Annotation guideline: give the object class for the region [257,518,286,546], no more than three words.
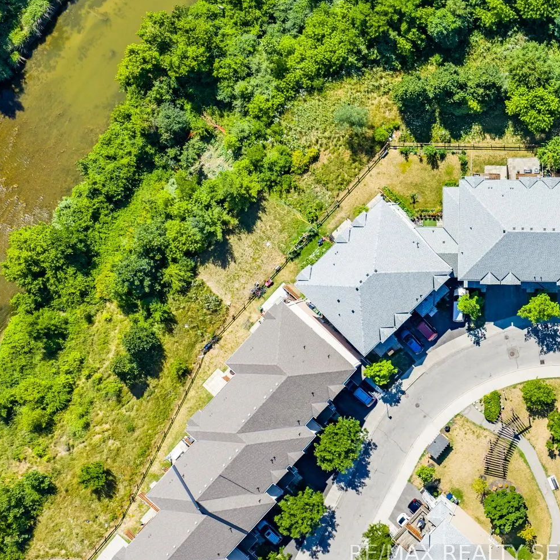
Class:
car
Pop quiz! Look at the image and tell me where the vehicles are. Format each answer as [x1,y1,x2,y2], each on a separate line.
[452,286,468,323]
[411,314,444,346]
[405,495,432,515]
[257,518,286,546]
[347,380,382,411]
[393,510,411,530]
[397,326,425,355]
